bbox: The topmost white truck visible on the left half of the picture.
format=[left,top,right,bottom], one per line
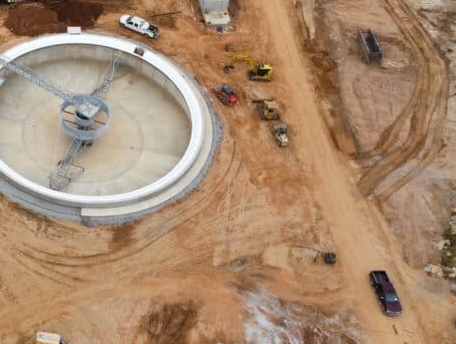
[118,15,162,39]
